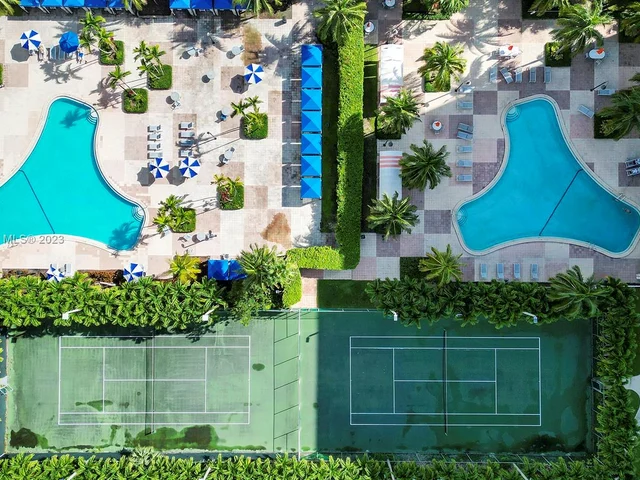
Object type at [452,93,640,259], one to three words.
swimming pool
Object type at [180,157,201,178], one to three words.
umbrella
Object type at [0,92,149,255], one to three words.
swimming pool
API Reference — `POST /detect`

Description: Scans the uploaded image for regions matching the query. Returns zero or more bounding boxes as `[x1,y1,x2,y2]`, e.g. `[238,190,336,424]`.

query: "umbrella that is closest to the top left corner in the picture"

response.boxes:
[20,31,41,51]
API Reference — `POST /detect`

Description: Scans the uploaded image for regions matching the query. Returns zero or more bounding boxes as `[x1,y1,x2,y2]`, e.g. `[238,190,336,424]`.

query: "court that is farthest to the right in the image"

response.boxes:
[299,309,592,453]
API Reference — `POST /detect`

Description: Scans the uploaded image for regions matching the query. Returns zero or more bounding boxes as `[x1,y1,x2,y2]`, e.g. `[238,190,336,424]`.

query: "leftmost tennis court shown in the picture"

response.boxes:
[6,309,299,453]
